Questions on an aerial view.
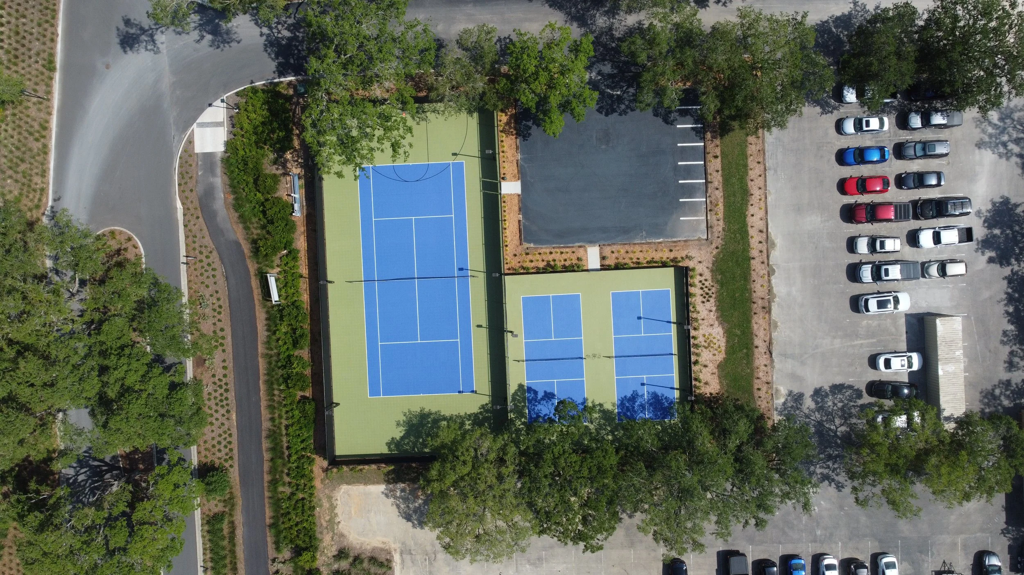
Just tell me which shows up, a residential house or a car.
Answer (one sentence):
Of the two, only a car appears.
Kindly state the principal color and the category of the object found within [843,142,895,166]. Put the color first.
blue car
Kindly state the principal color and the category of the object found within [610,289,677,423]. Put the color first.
blue sports court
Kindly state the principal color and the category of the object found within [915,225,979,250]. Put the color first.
white truck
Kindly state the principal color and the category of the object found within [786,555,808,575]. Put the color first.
blue car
